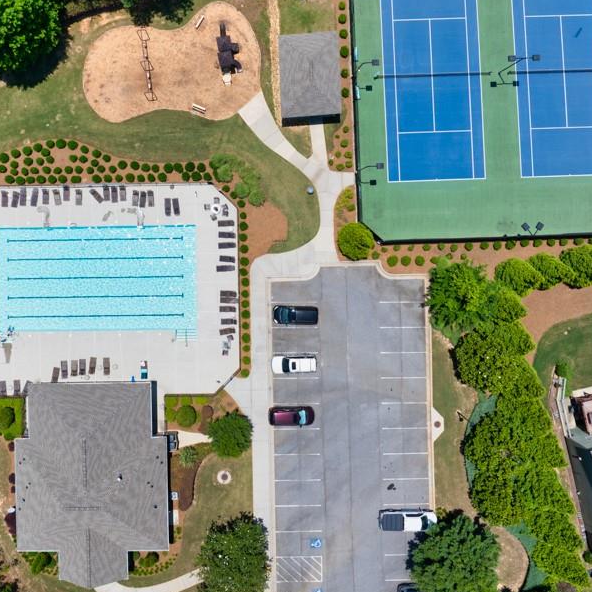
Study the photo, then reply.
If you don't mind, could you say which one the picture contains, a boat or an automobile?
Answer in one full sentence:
I can see an automobile in this picture.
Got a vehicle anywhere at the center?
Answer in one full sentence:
Yes, a vehicle appears at the center.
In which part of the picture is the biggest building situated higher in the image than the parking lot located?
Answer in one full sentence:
You can find the biggest building situated higher in the image than the parking lot in the top area of the picture.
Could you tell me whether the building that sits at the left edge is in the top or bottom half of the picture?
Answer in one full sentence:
Seen from above, the building that sits at the left edge lies in the bottom half of the view.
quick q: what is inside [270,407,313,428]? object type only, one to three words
car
